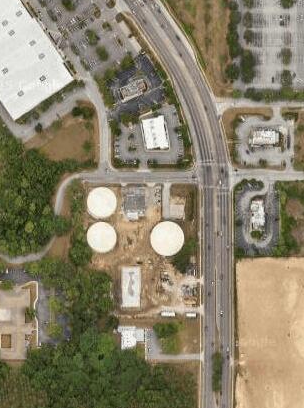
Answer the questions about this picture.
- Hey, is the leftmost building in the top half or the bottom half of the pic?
bottom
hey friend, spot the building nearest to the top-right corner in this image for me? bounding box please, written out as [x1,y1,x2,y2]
[253,130,277,145]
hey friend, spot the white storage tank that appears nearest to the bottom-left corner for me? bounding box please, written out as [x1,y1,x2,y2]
[87,222,117,253]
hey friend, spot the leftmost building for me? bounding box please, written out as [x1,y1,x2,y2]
[0,289,33,359]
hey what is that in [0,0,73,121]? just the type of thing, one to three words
building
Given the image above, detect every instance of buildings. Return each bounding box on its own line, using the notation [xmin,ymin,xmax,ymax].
[127,194,145,212]
[142,115,169,149]
[250,201,266,227]
[0,289,33,359]
[170,205,185,219]
[118,326,145,348]
[0,0,73,121]
[121,266,141,307]
[120,79,148,102]
[253,130,277,145]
